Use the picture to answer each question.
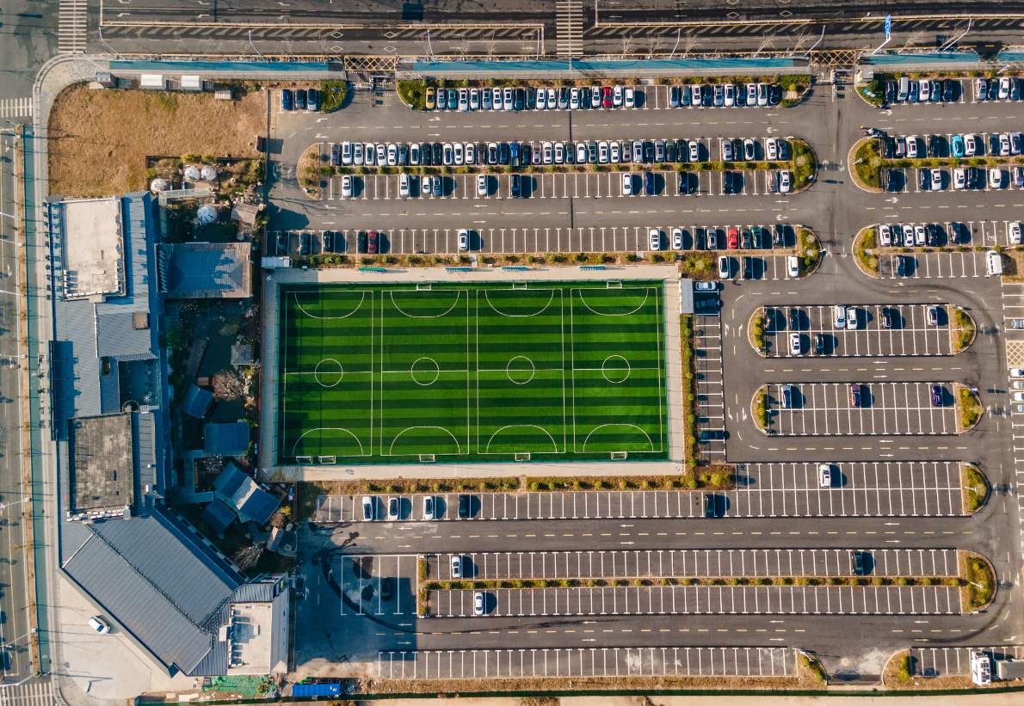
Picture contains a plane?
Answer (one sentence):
No, there's no plane here.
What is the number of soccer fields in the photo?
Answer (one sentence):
I count 4 soccer fields.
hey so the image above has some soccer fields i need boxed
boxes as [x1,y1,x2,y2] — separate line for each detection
[277,282,377,465]
[472,280,570,463]
[376,281,473,464]
[567,279,669,462]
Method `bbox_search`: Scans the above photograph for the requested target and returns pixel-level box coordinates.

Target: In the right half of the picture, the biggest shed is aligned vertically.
[678,279,693,314]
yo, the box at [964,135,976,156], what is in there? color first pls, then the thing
white vehicle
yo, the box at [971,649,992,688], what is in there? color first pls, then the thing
white vehicle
